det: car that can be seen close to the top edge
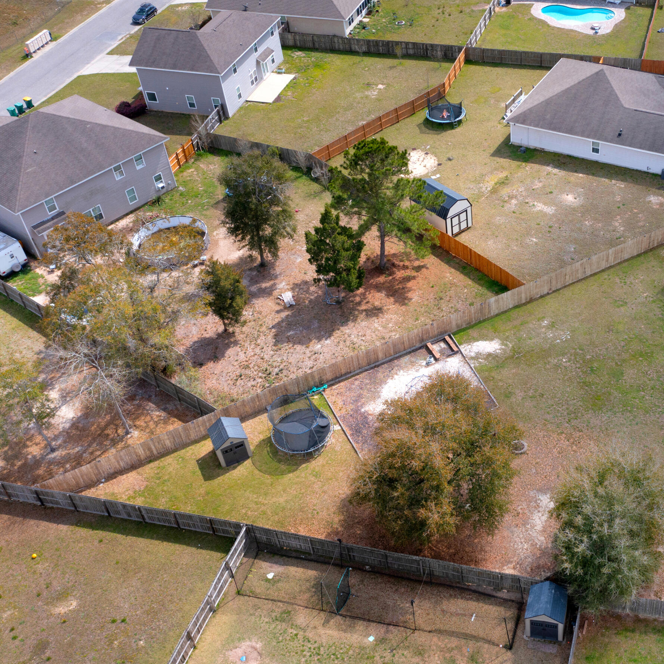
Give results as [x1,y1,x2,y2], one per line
[131,3,158,23]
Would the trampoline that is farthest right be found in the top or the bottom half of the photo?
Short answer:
top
